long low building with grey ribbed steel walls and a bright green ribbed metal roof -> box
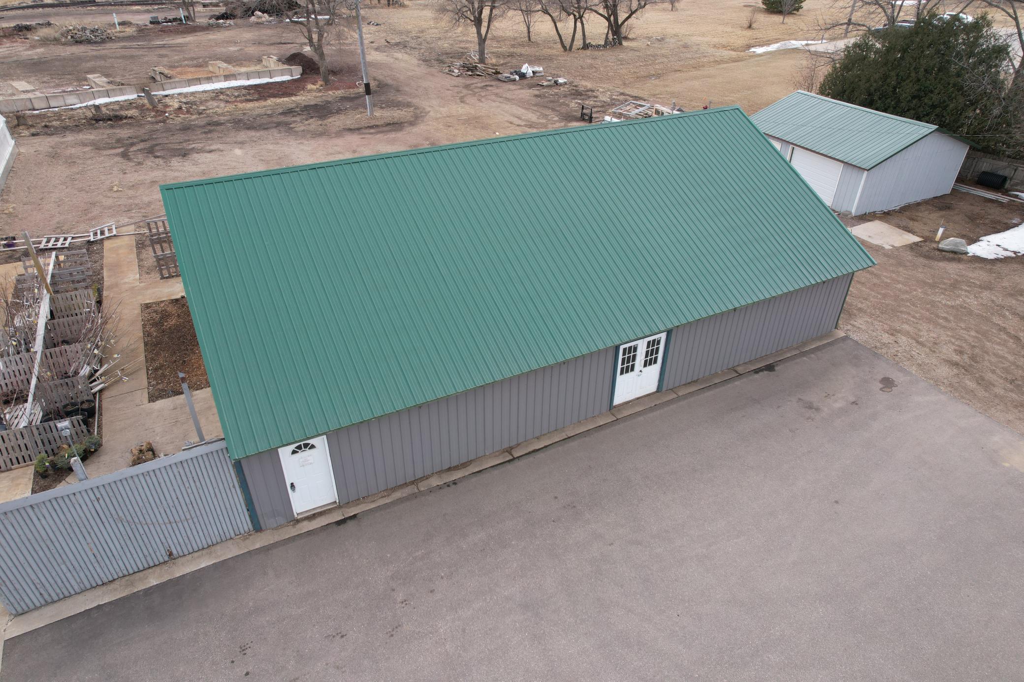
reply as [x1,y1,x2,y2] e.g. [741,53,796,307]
[158,103,878,532]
